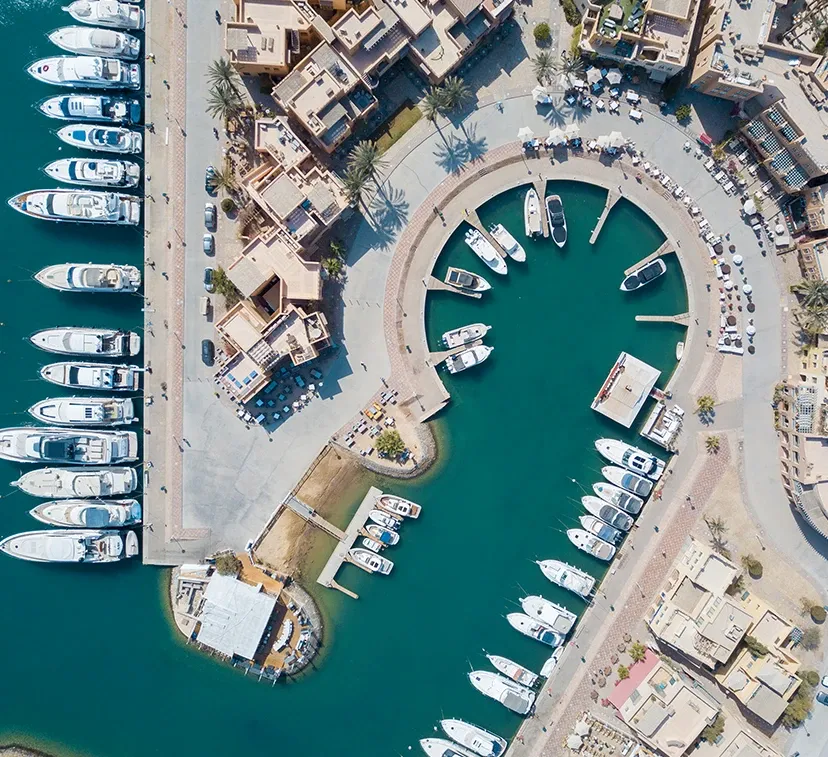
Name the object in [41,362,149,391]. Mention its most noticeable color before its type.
white boat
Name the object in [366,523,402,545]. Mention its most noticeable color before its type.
white boat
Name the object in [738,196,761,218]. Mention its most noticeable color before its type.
white umbrella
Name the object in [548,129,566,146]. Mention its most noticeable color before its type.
white umbrella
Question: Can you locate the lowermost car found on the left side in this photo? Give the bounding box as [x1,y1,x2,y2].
[201,339,213,365]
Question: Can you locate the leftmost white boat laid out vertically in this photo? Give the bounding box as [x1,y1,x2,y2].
[127,530,140,556]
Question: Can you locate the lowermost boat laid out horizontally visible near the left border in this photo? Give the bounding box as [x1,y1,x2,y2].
[1,530,131,563]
